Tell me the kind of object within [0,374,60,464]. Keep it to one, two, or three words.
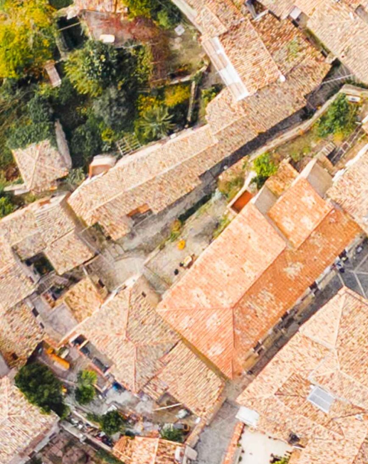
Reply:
house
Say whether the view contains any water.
No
